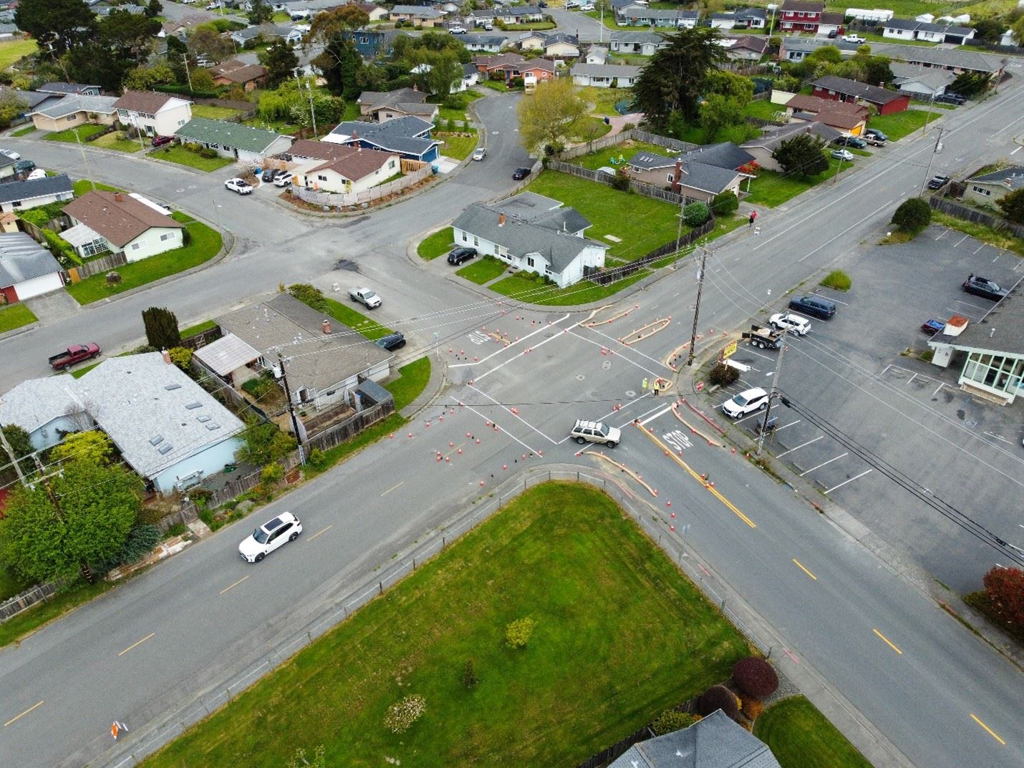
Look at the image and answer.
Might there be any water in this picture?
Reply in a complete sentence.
No, the scene doesn't show any water.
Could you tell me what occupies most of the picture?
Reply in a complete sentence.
The scene is dominated by paved ground.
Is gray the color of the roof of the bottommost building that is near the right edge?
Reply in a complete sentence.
Yes, the roof of the bottommost building that is near the right edge appears gray.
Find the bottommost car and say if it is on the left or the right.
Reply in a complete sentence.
It is on the left.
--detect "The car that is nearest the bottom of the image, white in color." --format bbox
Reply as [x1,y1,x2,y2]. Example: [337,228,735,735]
[235,513,301,564]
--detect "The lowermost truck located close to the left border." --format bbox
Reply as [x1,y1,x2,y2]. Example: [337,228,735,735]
[40,341,104,370]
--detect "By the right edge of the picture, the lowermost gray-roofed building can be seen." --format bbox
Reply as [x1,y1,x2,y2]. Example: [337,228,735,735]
[926,274,1024,407]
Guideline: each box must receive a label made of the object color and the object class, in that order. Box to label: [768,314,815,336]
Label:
white car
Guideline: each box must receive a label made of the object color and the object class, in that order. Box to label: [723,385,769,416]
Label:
white car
